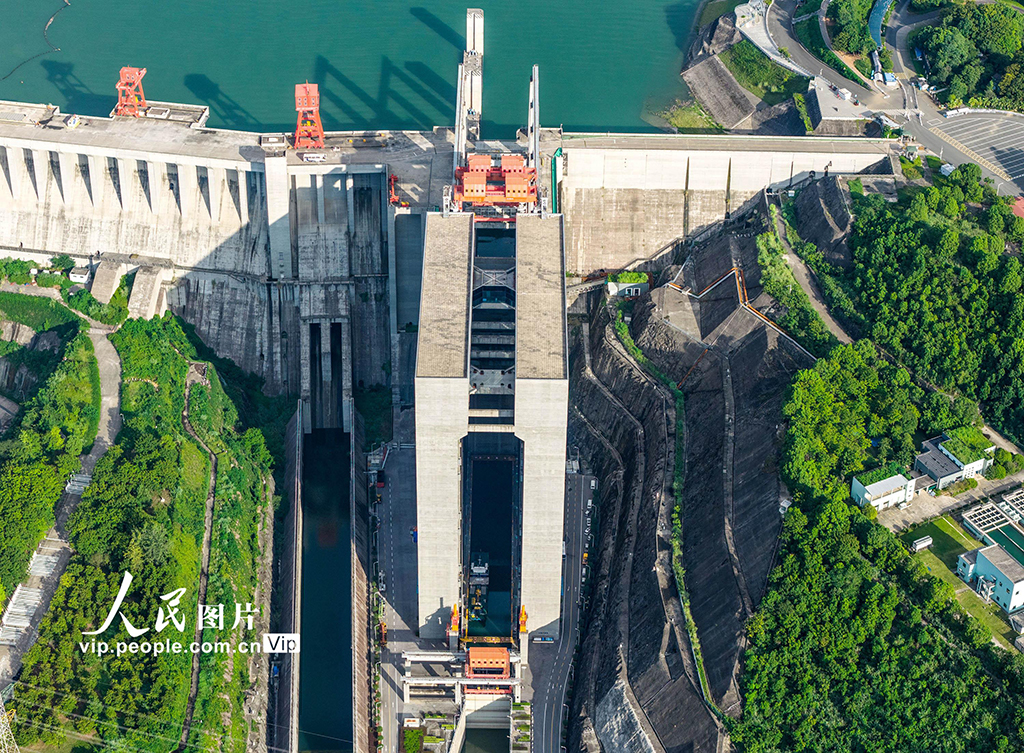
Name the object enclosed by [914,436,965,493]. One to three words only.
building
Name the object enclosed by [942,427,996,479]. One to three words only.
building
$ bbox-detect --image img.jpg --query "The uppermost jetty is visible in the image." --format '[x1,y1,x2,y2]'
[466,8,483,53]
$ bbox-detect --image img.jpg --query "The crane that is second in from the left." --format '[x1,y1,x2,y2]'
[290,86,328,151]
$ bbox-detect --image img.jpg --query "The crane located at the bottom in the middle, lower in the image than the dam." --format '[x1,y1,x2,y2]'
[464,646,511,686]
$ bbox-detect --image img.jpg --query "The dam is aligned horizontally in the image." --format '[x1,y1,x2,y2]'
[0,94,909,429]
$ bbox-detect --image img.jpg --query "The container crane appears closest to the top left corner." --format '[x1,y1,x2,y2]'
[114,62,151,120]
